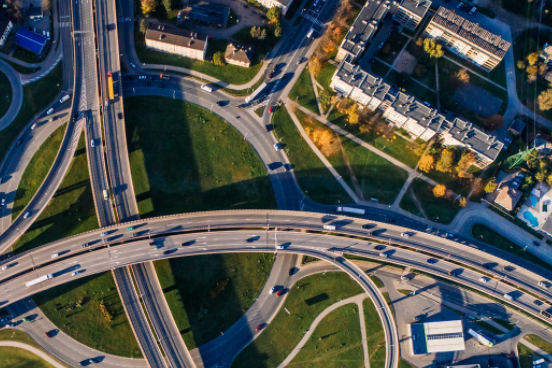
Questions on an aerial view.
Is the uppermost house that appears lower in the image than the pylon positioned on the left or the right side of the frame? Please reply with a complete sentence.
The uppermost house that appears lower in the image than the pylon appears in the right half of the scene.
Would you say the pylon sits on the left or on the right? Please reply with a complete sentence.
The pylon appears in the right half of the scene.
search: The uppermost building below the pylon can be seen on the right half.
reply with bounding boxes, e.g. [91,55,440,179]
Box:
[492,181,523,211]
